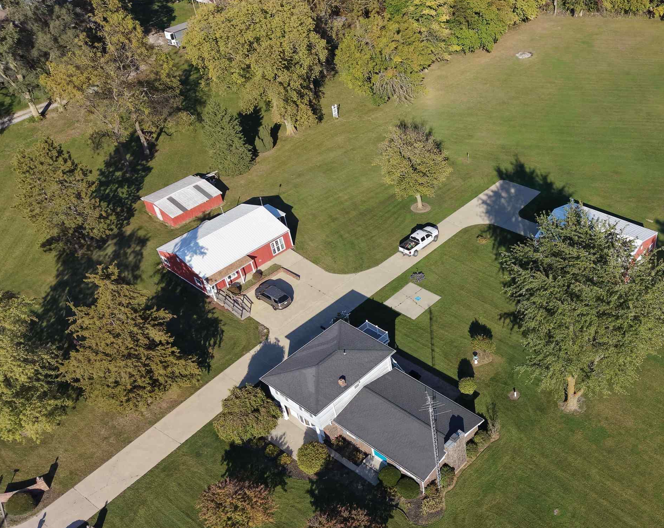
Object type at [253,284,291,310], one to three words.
car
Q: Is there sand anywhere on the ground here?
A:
No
